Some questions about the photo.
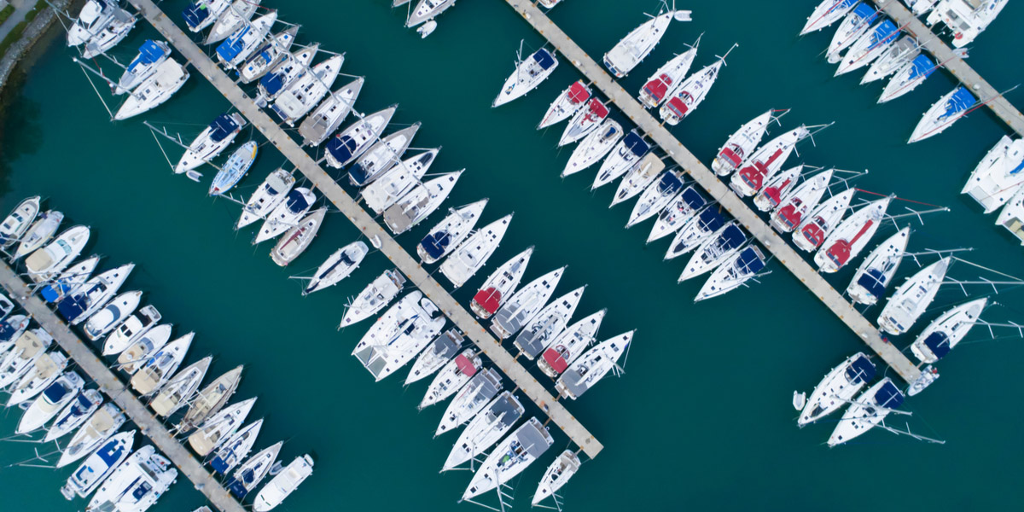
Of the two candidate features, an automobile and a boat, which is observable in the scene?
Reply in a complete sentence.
The one in the frame is a boat.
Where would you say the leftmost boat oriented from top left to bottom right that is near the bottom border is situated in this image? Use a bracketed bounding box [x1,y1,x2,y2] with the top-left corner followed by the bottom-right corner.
[62,486,77,501]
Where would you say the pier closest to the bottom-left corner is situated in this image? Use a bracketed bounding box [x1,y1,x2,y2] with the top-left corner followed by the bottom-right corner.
[0,257,251,512]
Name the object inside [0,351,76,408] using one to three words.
boat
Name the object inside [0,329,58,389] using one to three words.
boat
